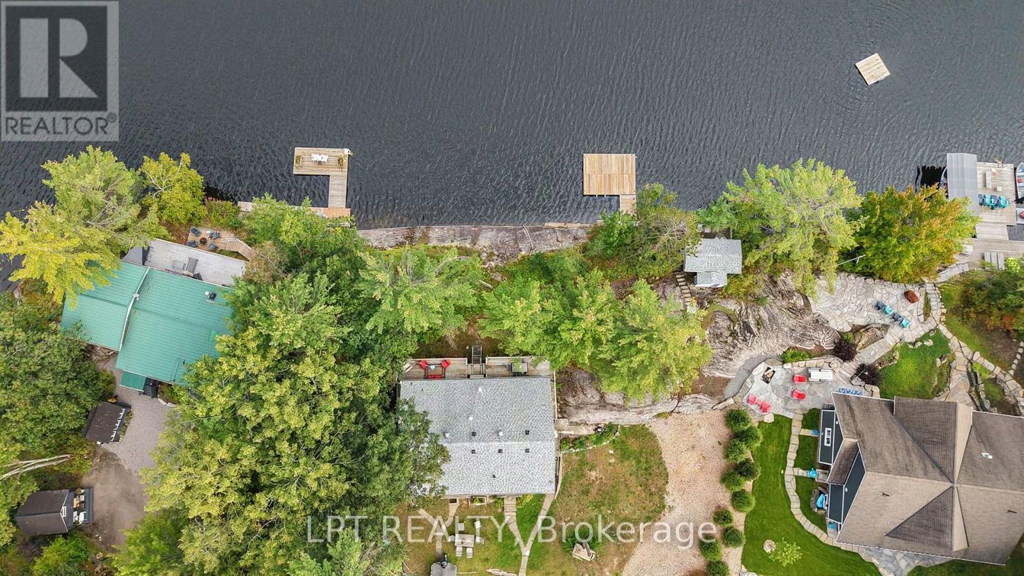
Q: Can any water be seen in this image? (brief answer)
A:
Yes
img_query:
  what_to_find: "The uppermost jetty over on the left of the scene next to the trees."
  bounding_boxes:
[294,147,349,208]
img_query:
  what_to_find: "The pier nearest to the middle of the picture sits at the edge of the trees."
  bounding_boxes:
[583,153,637,220]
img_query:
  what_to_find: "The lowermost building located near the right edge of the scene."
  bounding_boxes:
[812,389,1024,561]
